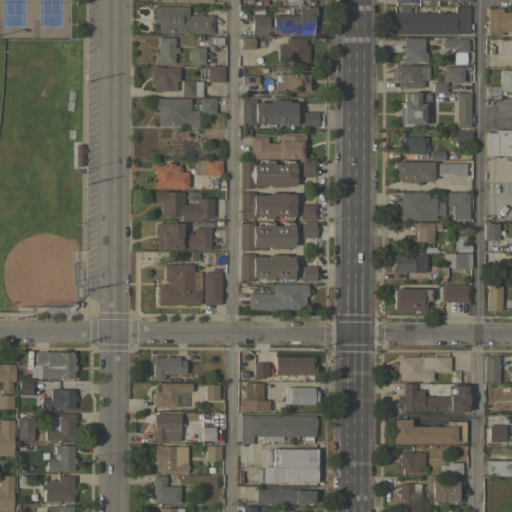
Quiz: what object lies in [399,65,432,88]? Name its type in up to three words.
house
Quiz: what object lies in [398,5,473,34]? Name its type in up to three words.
building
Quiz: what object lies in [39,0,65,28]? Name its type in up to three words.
tennis court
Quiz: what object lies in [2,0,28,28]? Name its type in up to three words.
tennis court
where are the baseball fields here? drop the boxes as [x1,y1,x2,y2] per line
[0,41,83,306]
